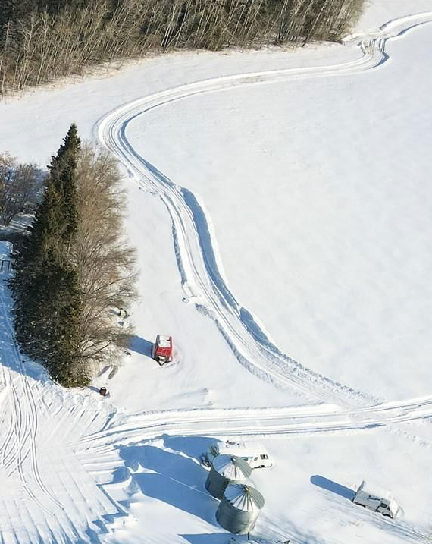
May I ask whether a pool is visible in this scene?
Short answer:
No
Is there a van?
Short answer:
Yes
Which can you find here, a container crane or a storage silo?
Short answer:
storage silo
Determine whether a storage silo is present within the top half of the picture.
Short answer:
No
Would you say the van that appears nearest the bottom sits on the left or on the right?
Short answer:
right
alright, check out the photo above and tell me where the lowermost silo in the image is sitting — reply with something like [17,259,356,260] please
[215,482,266,535]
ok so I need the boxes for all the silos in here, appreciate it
[204,454,253,501]
[215,482,266,535]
